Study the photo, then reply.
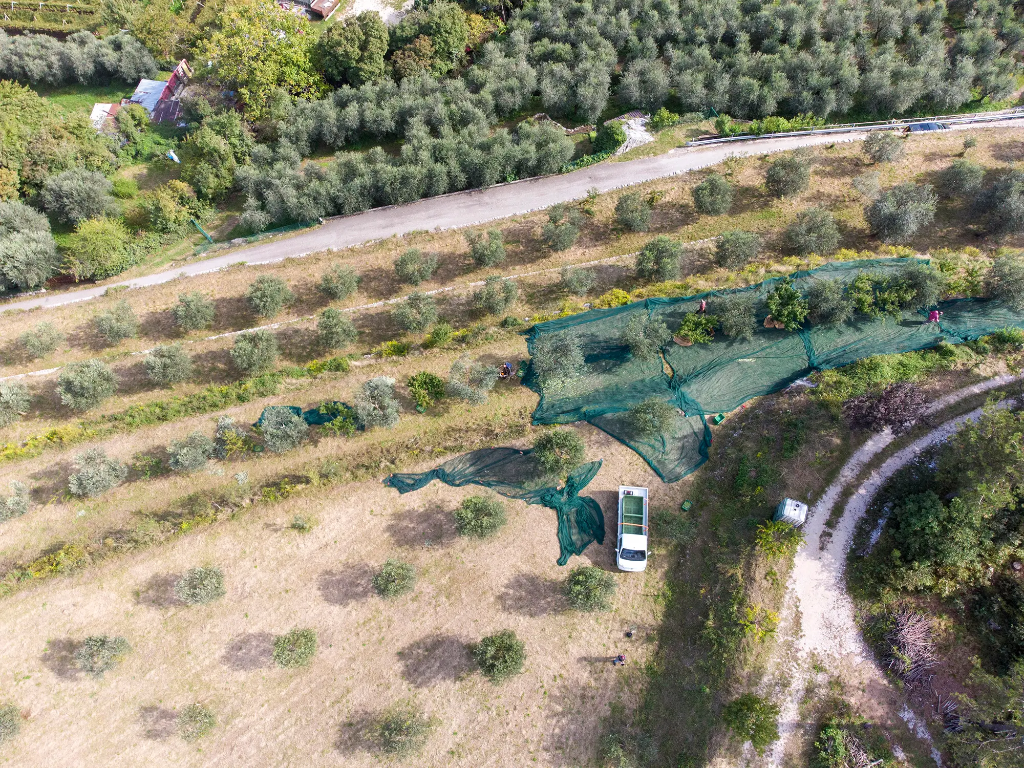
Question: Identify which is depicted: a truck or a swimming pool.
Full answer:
I can see a truck in this picture.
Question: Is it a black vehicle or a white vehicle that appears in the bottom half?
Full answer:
The feature located in the bottom half is a white vehicle.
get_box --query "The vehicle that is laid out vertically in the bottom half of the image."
[613,484,654,573]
